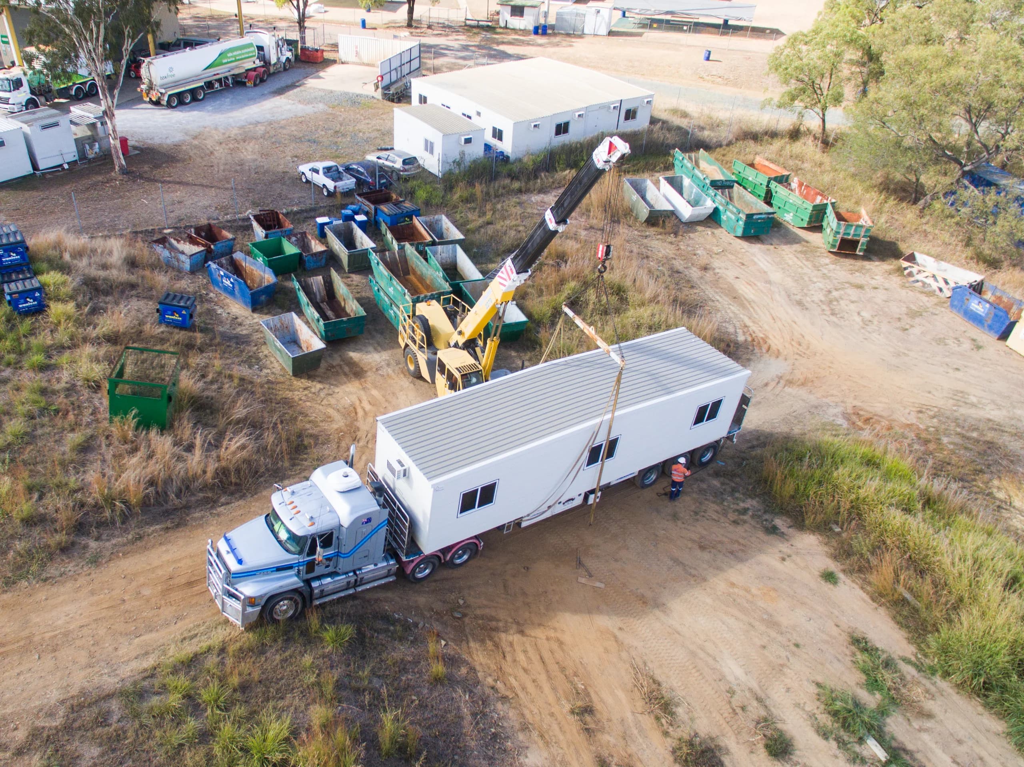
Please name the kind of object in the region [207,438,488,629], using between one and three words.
truck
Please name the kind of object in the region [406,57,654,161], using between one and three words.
building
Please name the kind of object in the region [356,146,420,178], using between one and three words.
car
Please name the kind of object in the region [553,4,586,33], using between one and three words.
shed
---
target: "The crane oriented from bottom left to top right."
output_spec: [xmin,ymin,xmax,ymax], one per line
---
[399,143,640,399]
